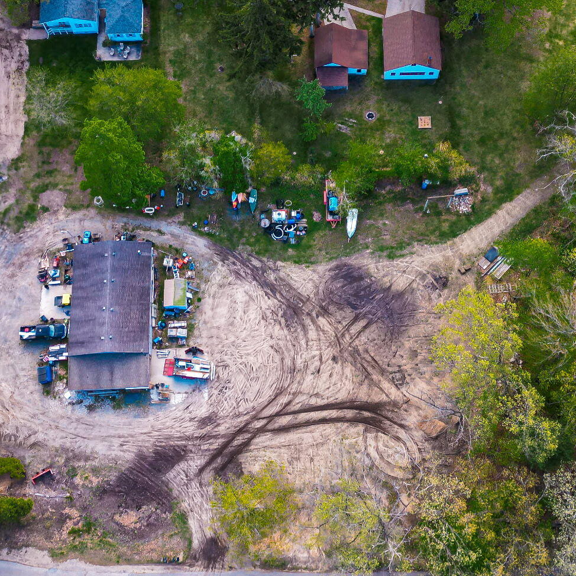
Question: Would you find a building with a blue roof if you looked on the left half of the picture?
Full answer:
Yes, on the left half of the picture there is a building with a blue roof.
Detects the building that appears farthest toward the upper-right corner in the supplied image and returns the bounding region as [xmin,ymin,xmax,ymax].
[381,13,441,78]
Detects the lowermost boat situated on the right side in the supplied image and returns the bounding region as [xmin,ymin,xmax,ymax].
[347,205,360,245]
